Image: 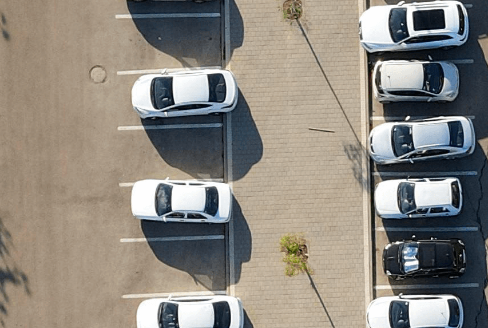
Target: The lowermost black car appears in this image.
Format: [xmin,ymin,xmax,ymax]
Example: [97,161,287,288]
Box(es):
[382,232,466,281]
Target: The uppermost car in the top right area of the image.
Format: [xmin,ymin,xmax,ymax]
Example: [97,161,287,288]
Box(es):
[359,0,468,51]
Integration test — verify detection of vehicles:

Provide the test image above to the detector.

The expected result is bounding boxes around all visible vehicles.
[368,112,475,163]
[136,291,244,328]
[131,175,232,224]
[375,171,463,220]
[366,289,464,328]
[382,232,466,281]
[359,0,468,51]
[373,53,459,102]
[132,66,238,119]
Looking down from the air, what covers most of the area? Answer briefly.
paved ground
